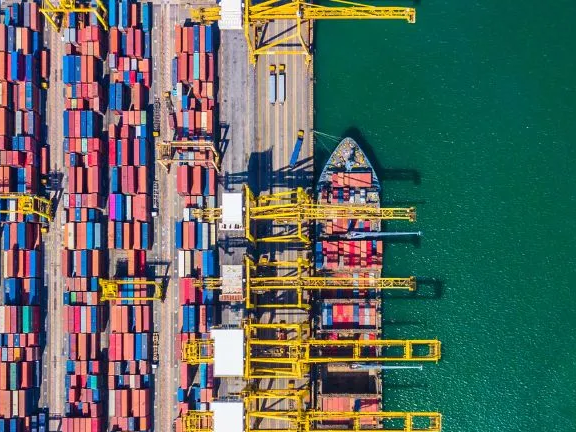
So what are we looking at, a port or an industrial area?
port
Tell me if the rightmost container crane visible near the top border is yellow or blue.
yellow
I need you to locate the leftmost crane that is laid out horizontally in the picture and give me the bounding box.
[0,193,52,222]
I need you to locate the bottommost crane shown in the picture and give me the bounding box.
[182,375,442,432]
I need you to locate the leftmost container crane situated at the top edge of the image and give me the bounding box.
[42,0,110,34]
